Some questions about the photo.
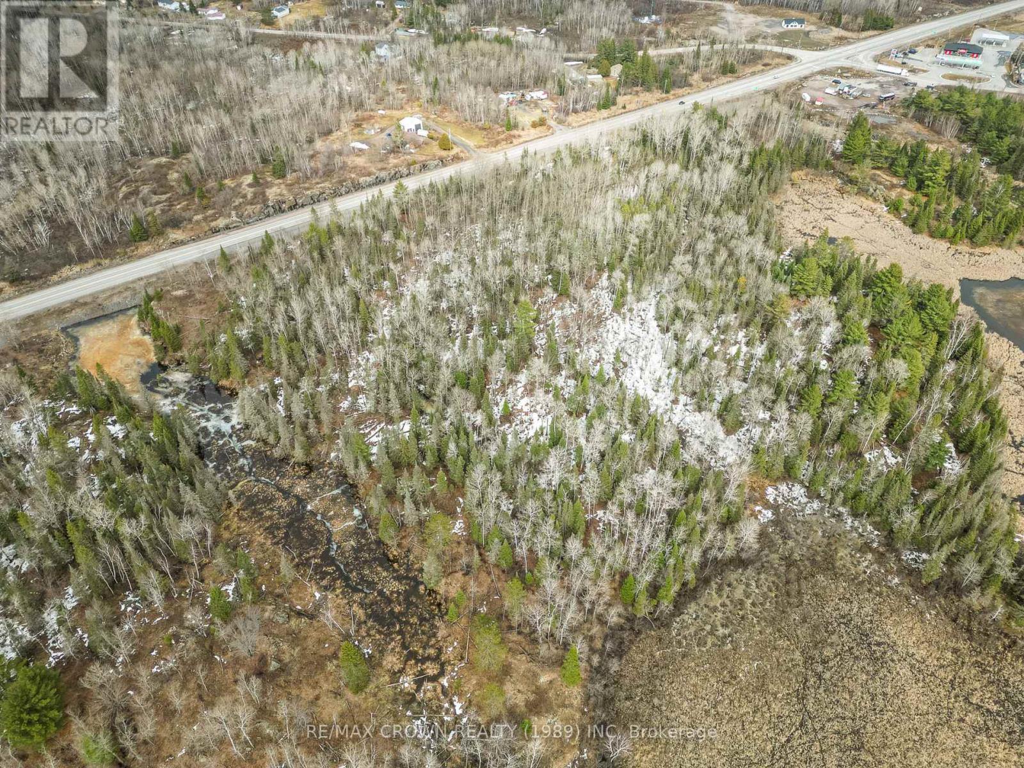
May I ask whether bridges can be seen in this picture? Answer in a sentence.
No, I find no bridge anywhere in the image.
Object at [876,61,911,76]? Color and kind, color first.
white vehicle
